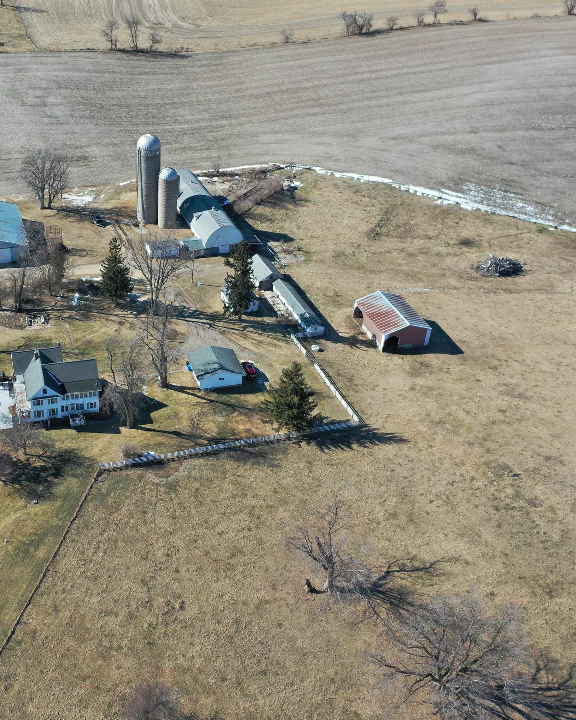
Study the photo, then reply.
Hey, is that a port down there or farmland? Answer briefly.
farmland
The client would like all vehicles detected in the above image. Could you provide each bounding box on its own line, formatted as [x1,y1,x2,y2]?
[92,213,103,225]
[242,364,258,381]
